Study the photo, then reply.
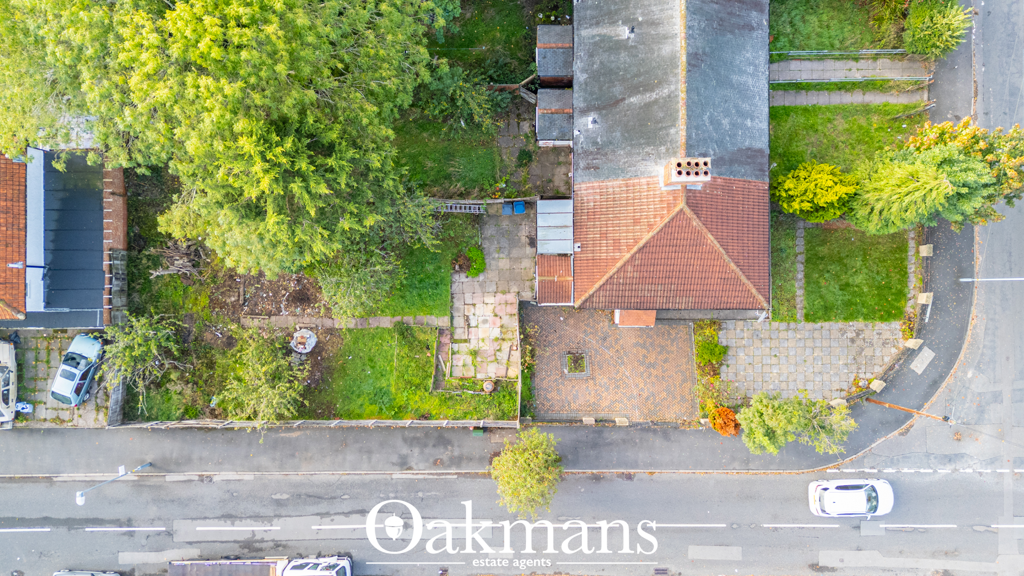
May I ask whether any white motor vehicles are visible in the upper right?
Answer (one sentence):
No, I see no white motor vehicle in the upper right.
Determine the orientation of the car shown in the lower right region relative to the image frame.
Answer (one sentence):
In this picture, the car shown in the lower right region is oriented horizontally.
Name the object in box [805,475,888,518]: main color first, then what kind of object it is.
white car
